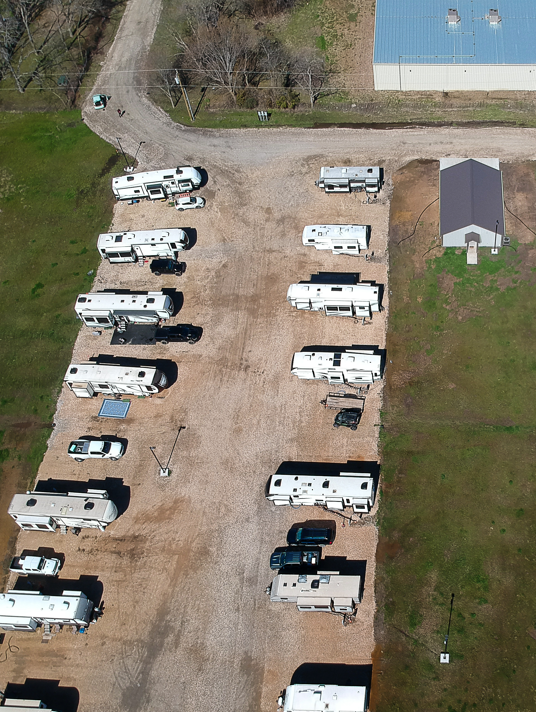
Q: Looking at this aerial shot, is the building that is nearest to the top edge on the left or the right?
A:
right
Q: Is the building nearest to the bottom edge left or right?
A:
right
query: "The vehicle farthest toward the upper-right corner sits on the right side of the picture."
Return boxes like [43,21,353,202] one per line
[312,167,383,195]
